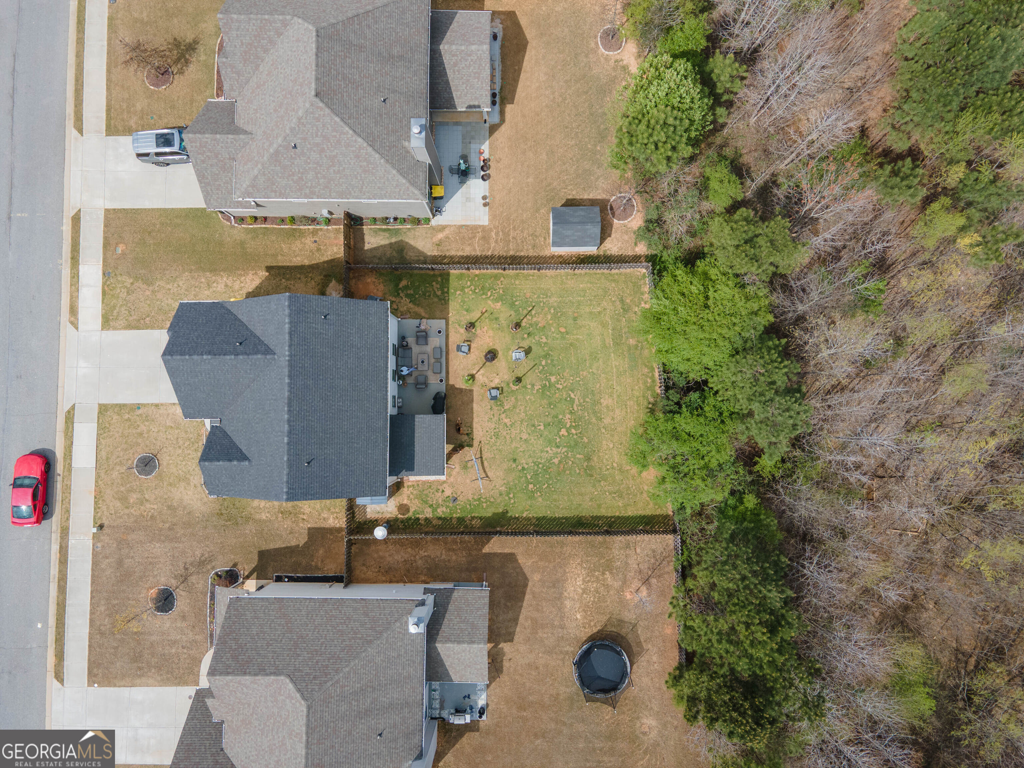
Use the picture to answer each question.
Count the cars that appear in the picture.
2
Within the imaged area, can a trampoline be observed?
Yes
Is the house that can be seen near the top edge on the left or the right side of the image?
left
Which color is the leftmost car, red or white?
red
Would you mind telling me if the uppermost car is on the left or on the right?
left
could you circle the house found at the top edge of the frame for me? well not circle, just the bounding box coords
[185,0,491,224]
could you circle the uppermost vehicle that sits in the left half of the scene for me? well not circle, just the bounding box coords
[130,124,193,166]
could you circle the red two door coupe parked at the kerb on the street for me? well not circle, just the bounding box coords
[9,454,51,527]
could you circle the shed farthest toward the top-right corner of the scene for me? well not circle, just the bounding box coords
[551,206,602,253]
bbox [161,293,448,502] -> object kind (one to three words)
house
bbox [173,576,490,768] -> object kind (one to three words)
house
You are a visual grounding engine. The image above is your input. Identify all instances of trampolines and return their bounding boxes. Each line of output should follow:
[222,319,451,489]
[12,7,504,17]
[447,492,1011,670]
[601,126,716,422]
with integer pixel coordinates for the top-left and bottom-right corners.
[573,634,634,712]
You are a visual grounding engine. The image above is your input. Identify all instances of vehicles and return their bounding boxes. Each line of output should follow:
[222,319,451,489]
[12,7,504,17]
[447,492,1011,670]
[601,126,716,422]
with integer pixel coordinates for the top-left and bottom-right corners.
[130,124,193,166]
[9,454,51,527]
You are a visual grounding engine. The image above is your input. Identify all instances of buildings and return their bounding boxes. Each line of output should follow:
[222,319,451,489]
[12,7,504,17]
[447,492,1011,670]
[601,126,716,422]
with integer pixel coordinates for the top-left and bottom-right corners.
[173,576,490,768]
[551,206,602,253]
[161,293,448,502]
[185,0,491,224]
